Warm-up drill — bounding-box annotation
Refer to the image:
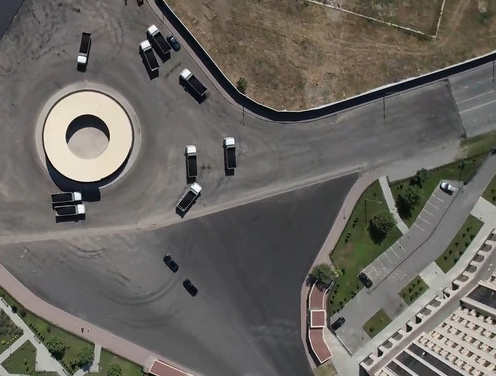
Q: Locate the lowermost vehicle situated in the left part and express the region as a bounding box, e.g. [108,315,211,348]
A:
[184,279,197,295]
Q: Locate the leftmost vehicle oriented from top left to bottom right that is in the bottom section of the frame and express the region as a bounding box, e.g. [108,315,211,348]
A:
[164,254,177,270]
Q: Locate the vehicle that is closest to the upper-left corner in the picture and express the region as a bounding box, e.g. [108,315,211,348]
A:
[77,33,91,64]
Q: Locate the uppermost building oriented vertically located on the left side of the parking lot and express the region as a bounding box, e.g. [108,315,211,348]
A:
[307,278,332,362]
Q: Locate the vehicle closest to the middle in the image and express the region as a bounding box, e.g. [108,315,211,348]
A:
[223,136,237,169]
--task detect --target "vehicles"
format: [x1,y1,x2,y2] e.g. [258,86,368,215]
[185,145,198,177]
[164,254,177,270]
[77,33,91,64]
[223,136,237,169]
[358,272,372,287]
[167,35,179,51]
[176,181,200,211]
[55,203,87,215]
[140,39,161,71]
[179,66,208,98]
[331,316,346,330]
[440,181,457,192]
[184,279,197,295]
[52,191,83,202]
[148,24,171,55]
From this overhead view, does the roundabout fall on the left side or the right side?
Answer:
left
